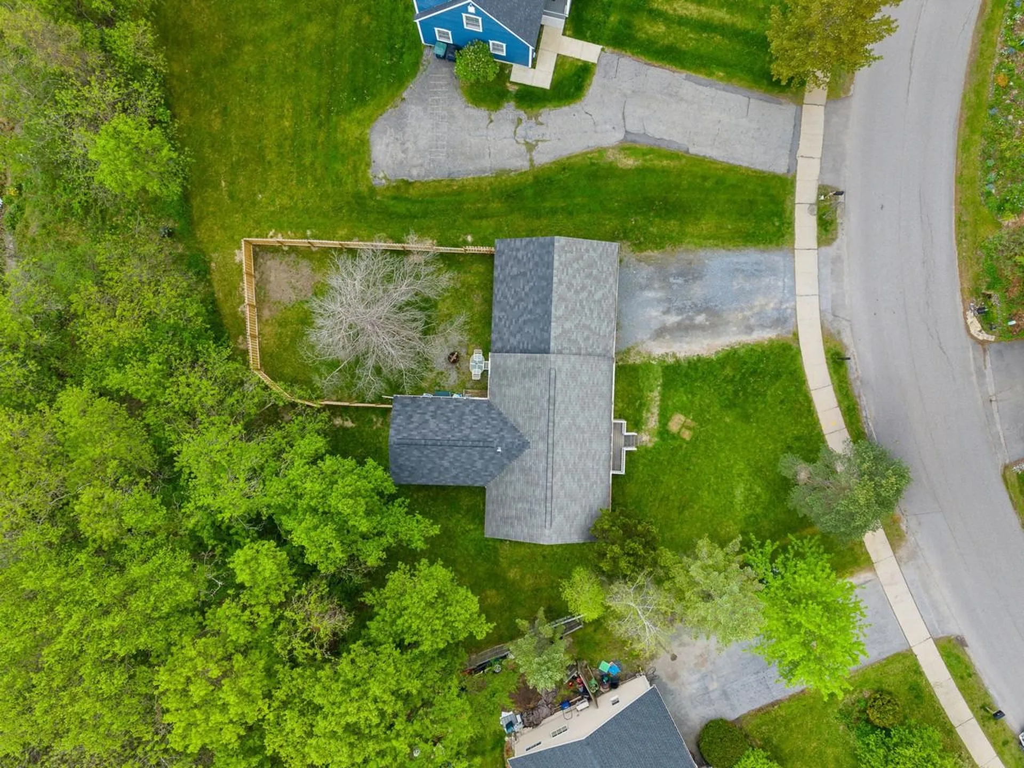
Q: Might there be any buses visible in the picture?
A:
No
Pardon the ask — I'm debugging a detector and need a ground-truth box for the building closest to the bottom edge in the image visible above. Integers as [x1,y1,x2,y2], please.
[506,674,698,768]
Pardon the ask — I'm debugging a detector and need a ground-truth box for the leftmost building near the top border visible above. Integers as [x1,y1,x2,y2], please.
[413,0,546,68]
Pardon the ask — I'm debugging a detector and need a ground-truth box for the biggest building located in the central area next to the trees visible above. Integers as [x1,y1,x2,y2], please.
[391,235,620,545]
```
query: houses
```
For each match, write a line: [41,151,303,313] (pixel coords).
[413,0,546,68]
[506,674,698,768]
[391,235,620,545]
